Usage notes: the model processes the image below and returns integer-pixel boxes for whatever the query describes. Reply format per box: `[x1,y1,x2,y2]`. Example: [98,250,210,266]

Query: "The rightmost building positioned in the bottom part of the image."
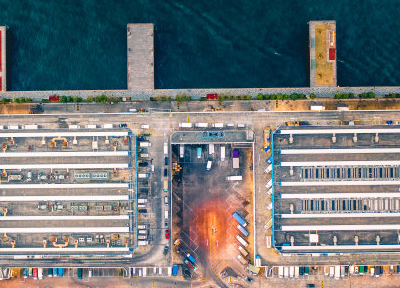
[272,125,400,256]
